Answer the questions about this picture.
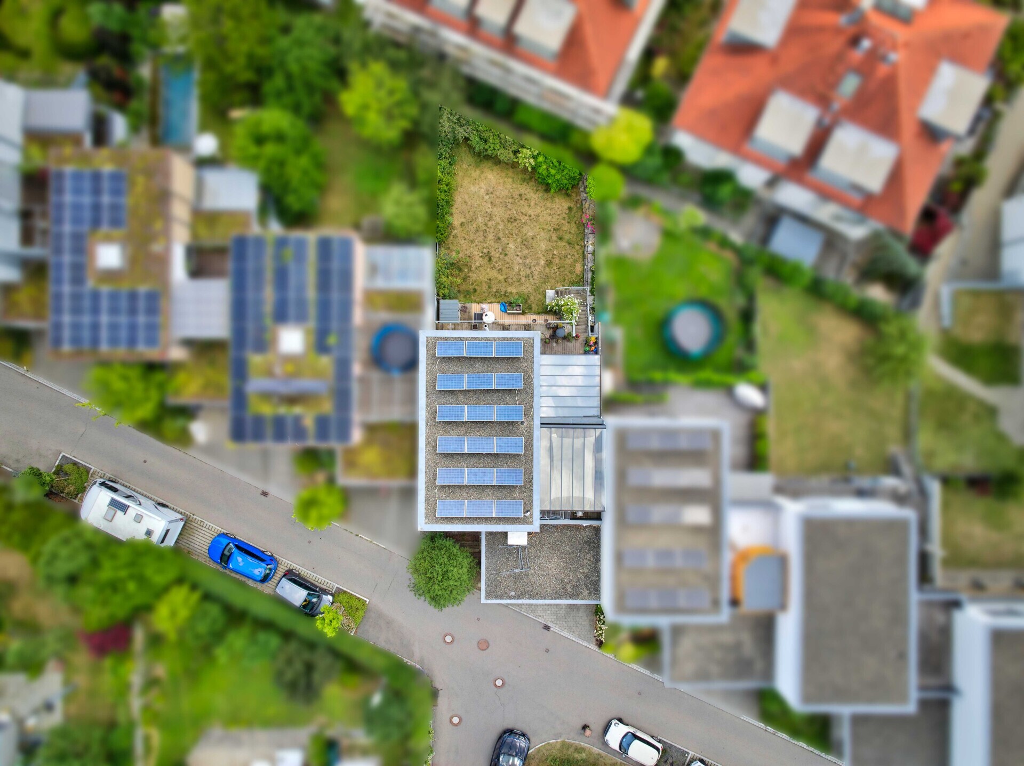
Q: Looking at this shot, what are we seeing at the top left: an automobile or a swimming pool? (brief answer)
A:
swimming pool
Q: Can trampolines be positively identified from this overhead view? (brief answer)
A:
Yes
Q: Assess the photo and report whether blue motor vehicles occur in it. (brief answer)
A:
Yes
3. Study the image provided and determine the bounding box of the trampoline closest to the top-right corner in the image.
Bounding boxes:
[664,298,730,357]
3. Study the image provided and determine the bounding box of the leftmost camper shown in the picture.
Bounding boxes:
[74,477,189,560]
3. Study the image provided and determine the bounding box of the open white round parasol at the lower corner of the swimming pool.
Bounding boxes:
[193,131,227,162]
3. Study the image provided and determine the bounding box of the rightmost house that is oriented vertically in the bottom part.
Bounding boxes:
[934,586,1024,766]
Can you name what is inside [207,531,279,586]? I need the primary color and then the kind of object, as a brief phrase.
blue car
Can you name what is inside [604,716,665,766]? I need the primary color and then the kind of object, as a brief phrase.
white car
